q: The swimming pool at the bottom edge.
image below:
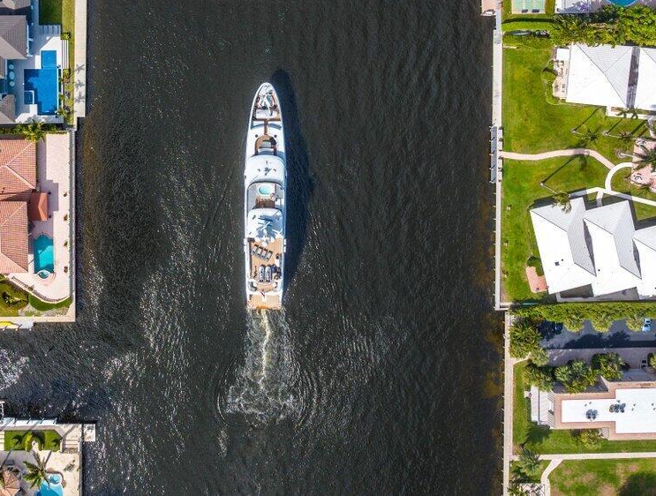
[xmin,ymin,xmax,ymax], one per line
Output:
[35,473,64,496]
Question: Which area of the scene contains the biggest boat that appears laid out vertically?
center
